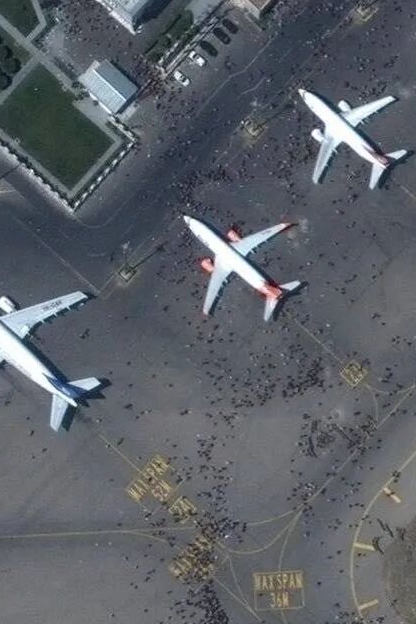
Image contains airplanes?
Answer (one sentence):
Yes, an airplane can be made out from above.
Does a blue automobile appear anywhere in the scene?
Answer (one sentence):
No, there is no blue automobile in the image.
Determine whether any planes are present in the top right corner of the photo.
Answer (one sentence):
Yes, the scene does show a plane in the top right corner of the photo.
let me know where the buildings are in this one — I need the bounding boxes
[237,0,279,18]
[84,60,139,118]
[90,0,165,39]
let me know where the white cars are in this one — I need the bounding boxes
[188,51,206,66]
[173,71,190,86]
